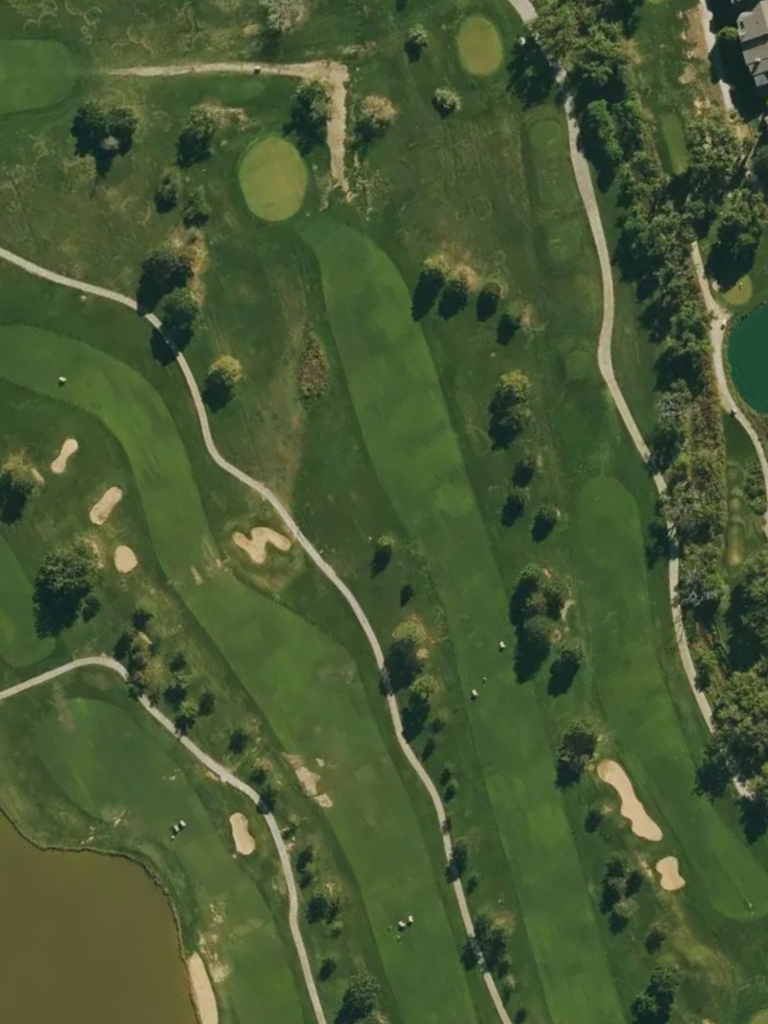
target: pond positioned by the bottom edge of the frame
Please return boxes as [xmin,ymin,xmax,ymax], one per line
[0,808,197,1024]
